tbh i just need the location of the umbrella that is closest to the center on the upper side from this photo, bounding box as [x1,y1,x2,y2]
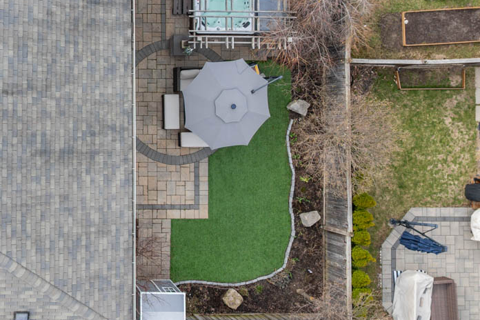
[181,59,283,150]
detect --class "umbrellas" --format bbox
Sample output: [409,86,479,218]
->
[181,59,283,150]
[386,220,448,254]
